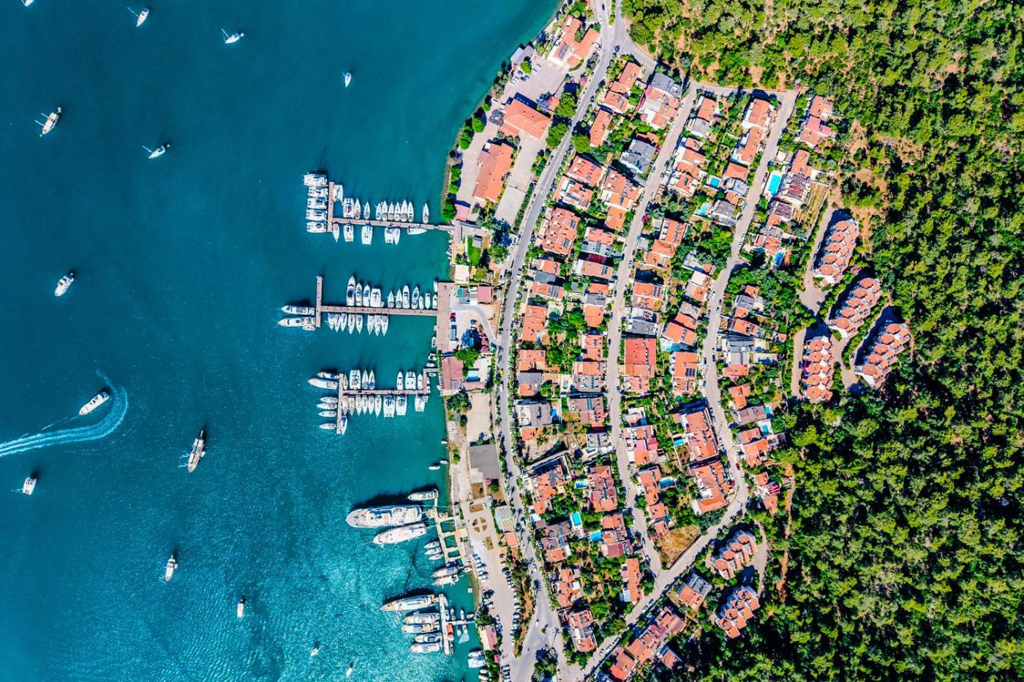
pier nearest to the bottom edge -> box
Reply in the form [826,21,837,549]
[439,594,477,655]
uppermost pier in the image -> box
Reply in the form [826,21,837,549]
[329,182,451,231]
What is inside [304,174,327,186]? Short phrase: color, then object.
white boat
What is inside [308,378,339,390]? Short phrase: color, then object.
white boat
